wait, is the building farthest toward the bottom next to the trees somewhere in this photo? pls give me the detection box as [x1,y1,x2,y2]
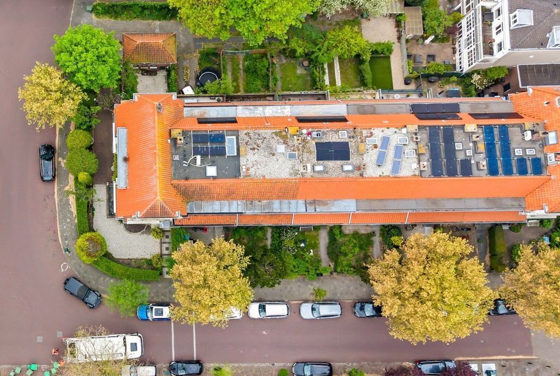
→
[115,89,560,231]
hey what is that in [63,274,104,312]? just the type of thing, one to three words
car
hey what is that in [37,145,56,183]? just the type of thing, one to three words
car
